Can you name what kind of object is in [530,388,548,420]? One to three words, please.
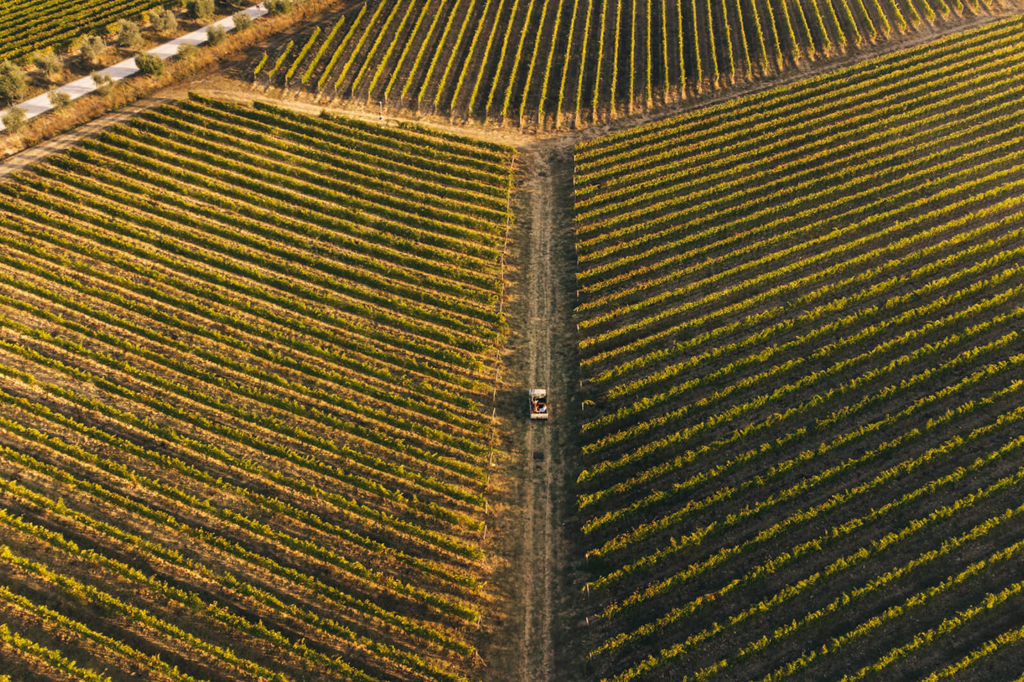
car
